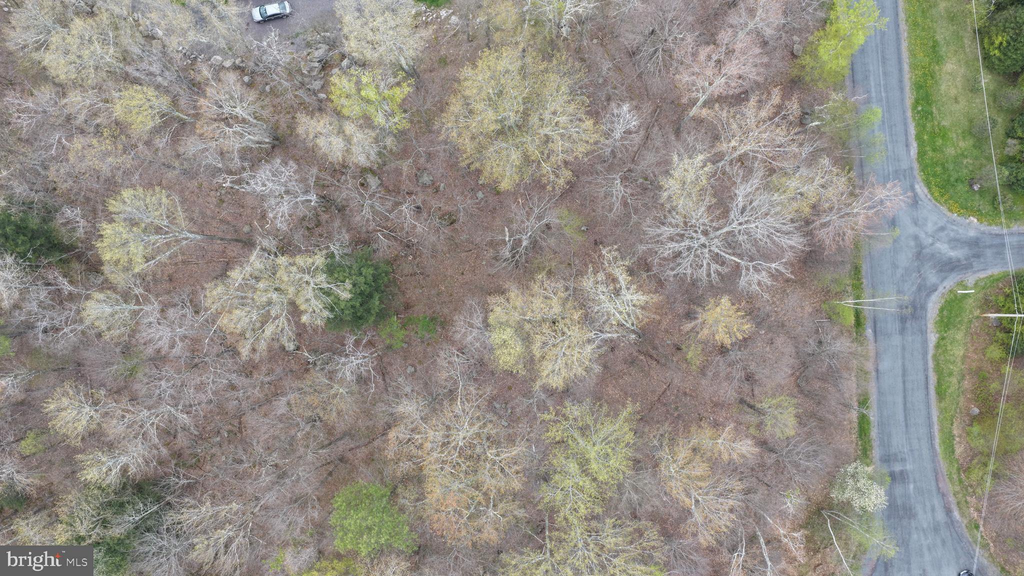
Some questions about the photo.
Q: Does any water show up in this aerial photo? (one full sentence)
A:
No, the picture contains no water.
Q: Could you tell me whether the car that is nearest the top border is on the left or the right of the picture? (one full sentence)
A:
The car that is nearest the top border is on the left side of the image.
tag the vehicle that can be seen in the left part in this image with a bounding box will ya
[251,1,292,24]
